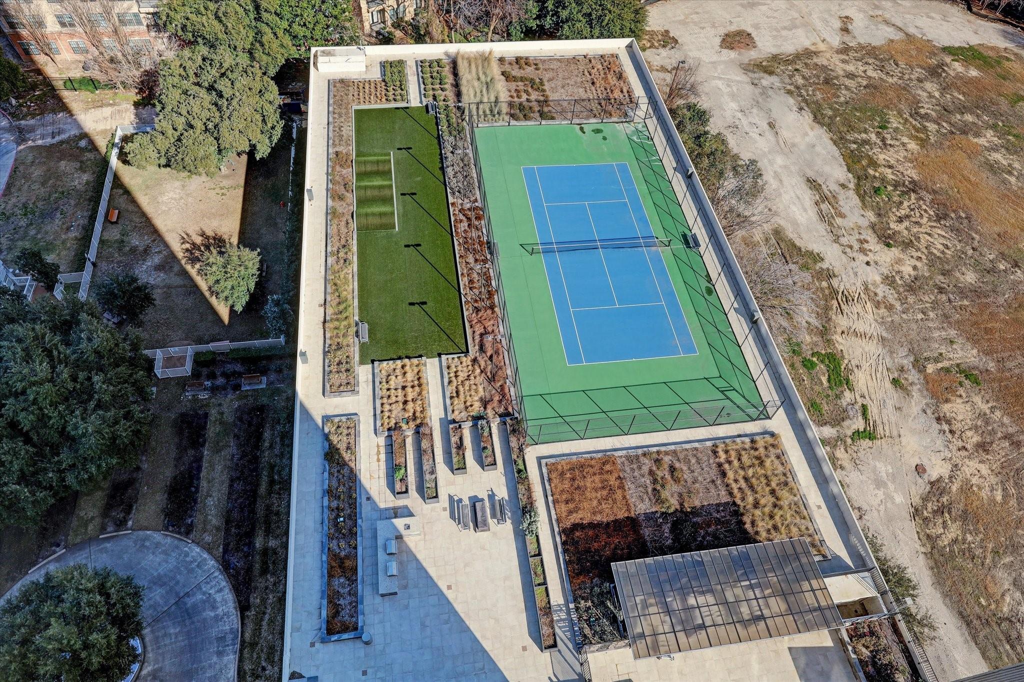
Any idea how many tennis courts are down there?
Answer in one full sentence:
Altogether the scene contains 1 tennis court.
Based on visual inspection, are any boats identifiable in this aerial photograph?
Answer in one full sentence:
No, the frame has no boat in it.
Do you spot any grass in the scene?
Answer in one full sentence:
Yes, grass shows up in the scene.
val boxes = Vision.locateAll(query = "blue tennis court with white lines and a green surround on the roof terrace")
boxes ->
[480,120,771,445]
